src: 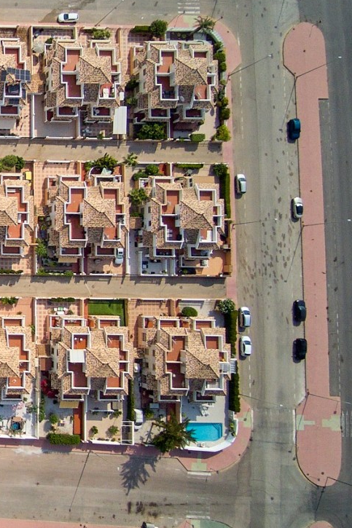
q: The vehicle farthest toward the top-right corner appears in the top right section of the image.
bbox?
[287,119,302,140]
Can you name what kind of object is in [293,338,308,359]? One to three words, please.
car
